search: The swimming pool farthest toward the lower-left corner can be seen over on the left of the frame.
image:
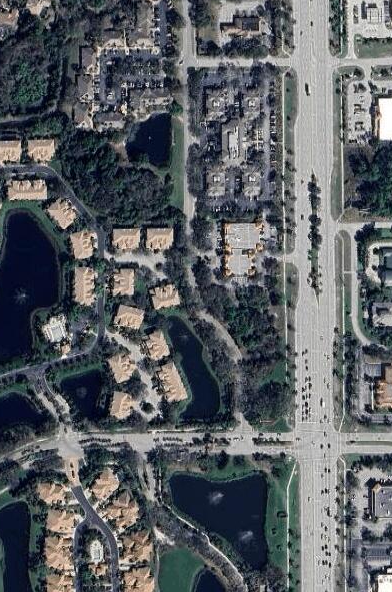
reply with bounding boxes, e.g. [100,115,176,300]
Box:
[90,540,104,562]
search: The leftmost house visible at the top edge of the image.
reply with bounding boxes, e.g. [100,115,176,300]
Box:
[0,8,20,29]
